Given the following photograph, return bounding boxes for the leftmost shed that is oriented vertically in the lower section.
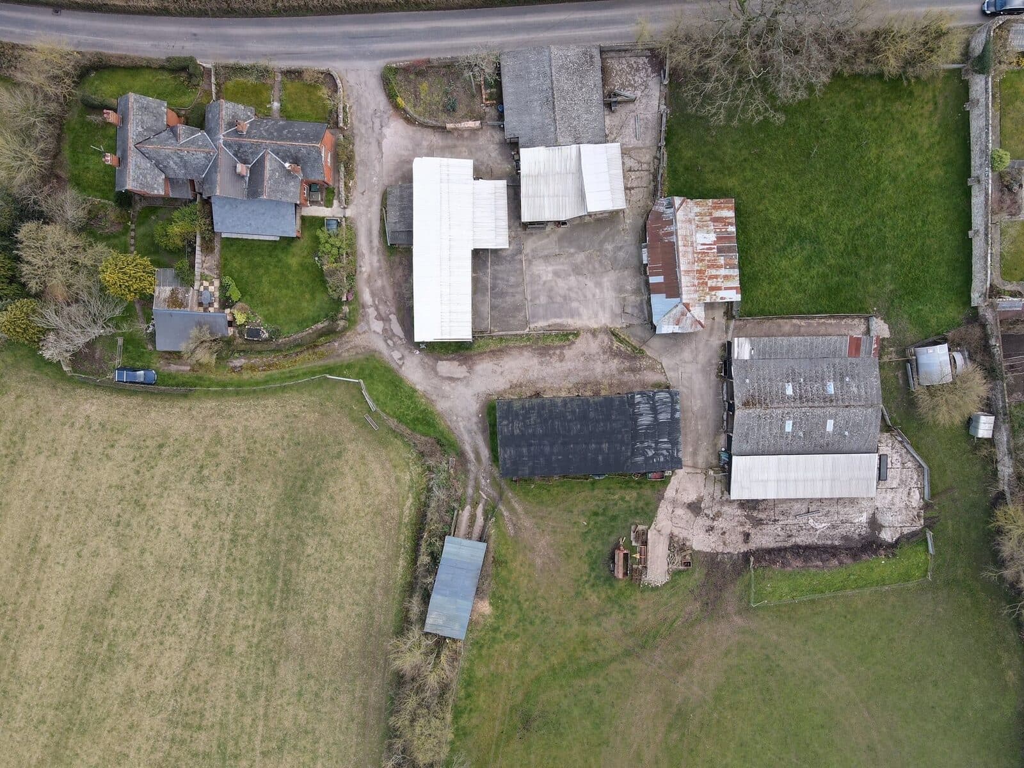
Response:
[424,532,487,640]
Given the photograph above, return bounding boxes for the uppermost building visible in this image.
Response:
[500,44,606,157]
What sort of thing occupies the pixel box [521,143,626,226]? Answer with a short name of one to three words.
building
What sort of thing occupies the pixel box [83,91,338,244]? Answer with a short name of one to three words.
house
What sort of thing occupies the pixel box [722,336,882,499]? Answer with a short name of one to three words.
building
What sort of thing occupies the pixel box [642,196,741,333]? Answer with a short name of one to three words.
barn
